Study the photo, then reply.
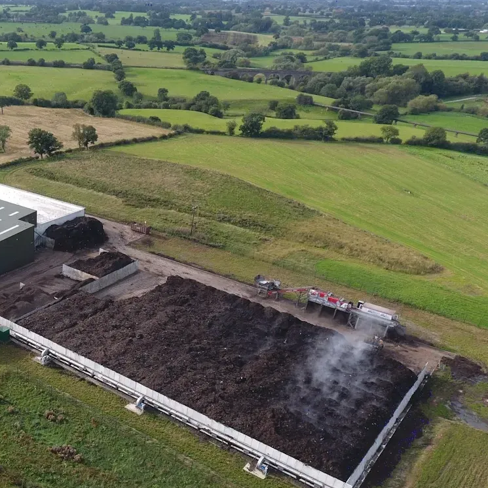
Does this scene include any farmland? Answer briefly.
Yes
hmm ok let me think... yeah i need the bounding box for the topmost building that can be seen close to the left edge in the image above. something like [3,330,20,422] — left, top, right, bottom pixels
[0,183,86,231]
